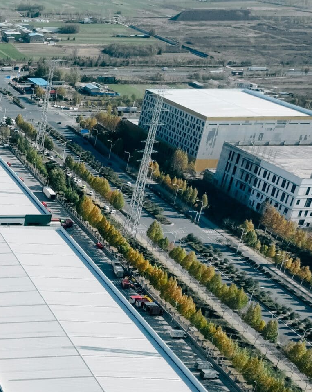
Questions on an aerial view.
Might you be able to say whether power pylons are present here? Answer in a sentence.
Yes, a power pylon can be made out from above.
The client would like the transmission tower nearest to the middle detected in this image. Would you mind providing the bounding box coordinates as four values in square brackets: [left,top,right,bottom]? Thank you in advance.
[119,88,168,237]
